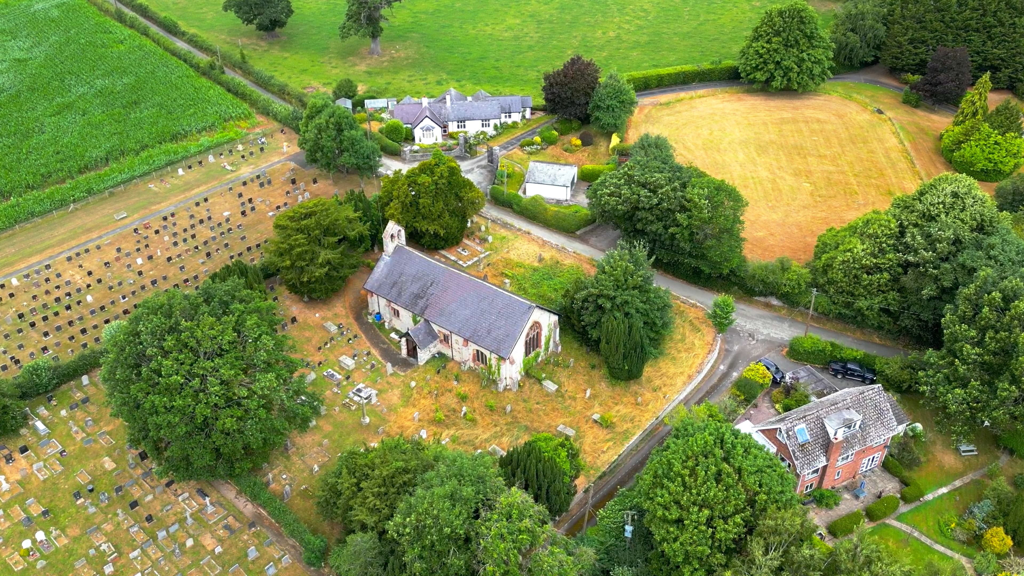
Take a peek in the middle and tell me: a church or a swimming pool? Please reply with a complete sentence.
The one visible in the middle is a church.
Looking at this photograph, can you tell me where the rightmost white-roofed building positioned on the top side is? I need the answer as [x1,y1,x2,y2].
[525,162,577,199]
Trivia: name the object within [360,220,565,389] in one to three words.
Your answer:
church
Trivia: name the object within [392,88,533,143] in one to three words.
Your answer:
house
